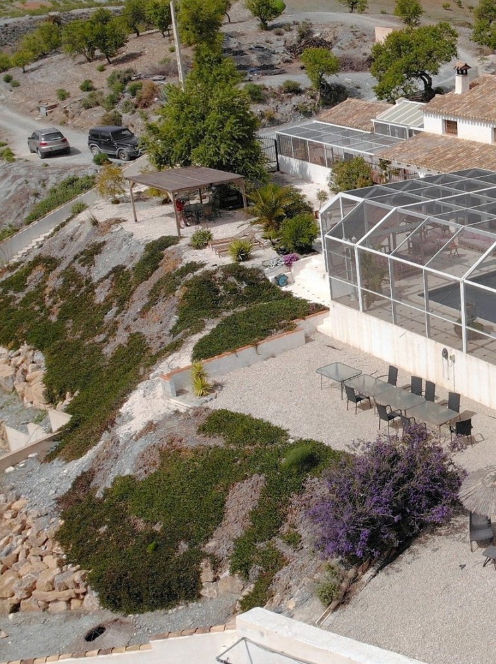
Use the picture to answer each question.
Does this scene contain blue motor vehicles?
No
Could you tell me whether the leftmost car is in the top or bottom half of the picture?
top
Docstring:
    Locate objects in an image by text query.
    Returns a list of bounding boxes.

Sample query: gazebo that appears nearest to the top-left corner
[124,166,249,235]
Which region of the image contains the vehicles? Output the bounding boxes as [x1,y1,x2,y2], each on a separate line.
[91,118,155,160]
[7,120,77,155]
